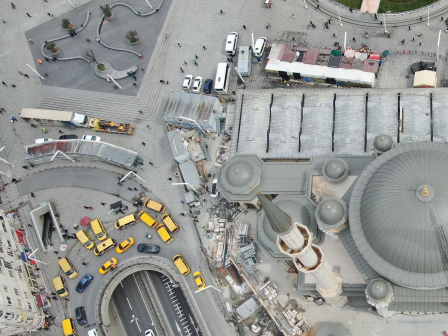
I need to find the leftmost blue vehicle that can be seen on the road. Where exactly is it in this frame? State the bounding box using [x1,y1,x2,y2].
[73,271,93,293]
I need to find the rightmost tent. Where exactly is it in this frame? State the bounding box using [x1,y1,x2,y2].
[414,73,437,88]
